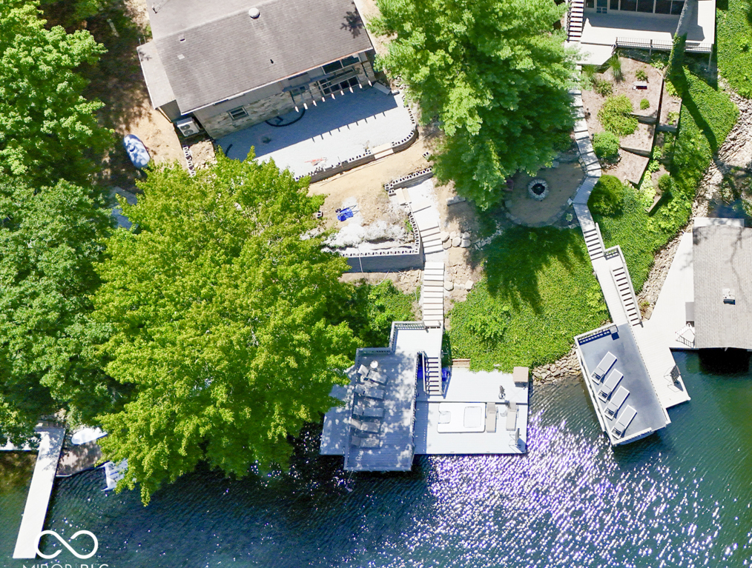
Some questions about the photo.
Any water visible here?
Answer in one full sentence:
Yes, the picture does contain water.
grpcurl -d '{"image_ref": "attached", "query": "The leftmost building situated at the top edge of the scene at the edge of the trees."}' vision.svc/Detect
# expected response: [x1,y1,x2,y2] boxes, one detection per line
[138,0,380,135]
